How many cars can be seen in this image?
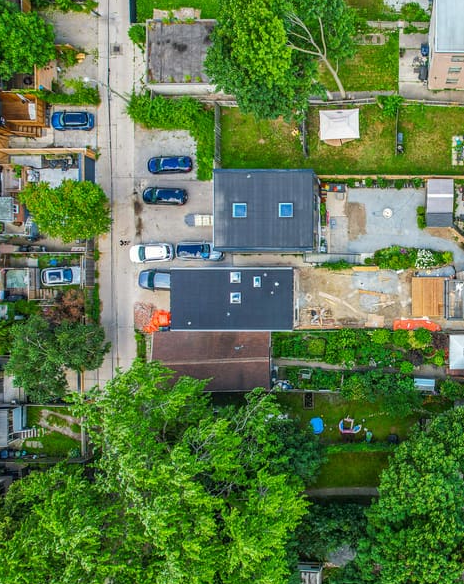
7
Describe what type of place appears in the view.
residential area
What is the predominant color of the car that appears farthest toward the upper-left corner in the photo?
blue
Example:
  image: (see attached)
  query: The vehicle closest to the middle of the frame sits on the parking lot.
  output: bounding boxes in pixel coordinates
[177,240,226,262]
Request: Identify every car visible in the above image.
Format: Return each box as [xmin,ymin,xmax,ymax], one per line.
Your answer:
[52,109,96,133]
[138,269,171,291]
[144,184,191,207]
[41,264,77,287]
[177,240,226,262]
[148,153,195,176]
[130,240,177,263]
